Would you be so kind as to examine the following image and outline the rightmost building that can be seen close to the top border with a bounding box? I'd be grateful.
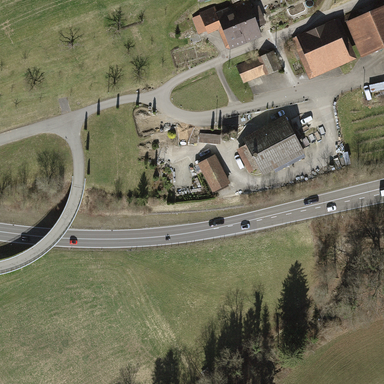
[345,5,384,57]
